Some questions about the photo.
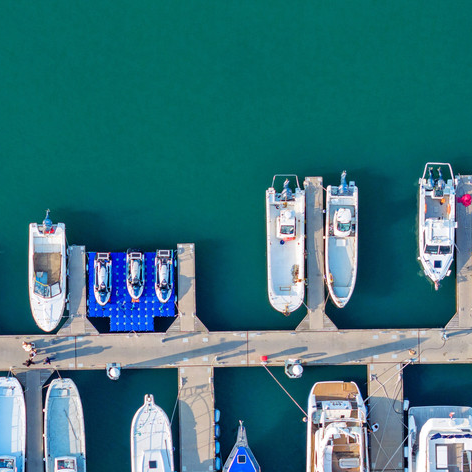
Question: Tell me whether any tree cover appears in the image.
No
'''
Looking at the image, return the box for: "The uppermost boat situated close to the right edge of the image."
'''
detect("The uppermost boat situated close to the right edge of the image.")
[416,163,460,291]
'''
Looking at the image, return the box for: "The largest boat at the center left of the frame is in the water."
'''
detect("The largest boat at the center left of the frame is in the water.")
[28,206,67,332]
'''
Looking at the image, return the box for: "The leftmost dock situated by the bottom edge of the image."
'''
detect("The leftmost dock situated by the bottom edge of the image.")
[14,370,54,472]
